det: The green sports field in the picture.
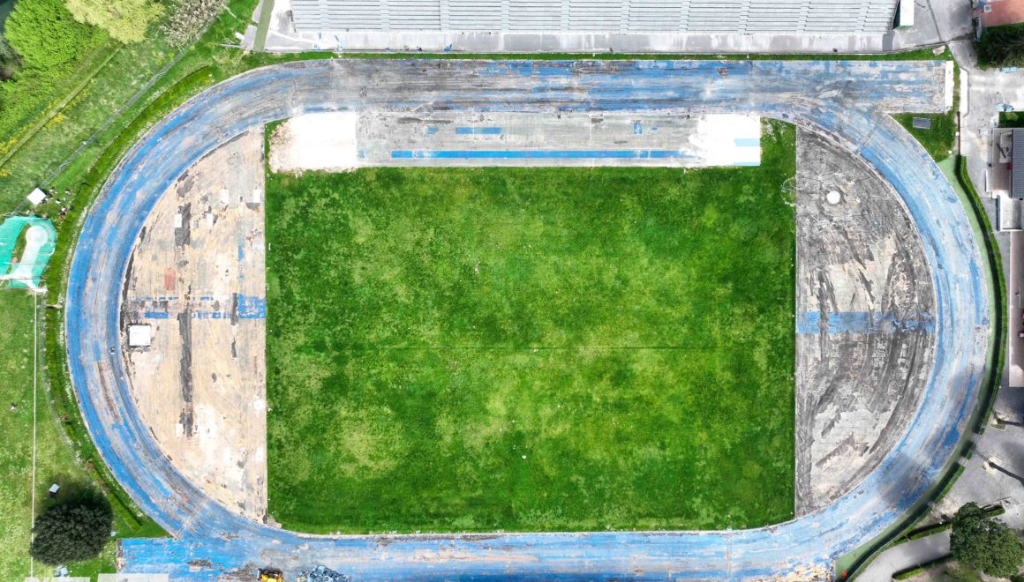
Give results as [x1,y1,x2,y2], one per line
[266,118,795,532]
